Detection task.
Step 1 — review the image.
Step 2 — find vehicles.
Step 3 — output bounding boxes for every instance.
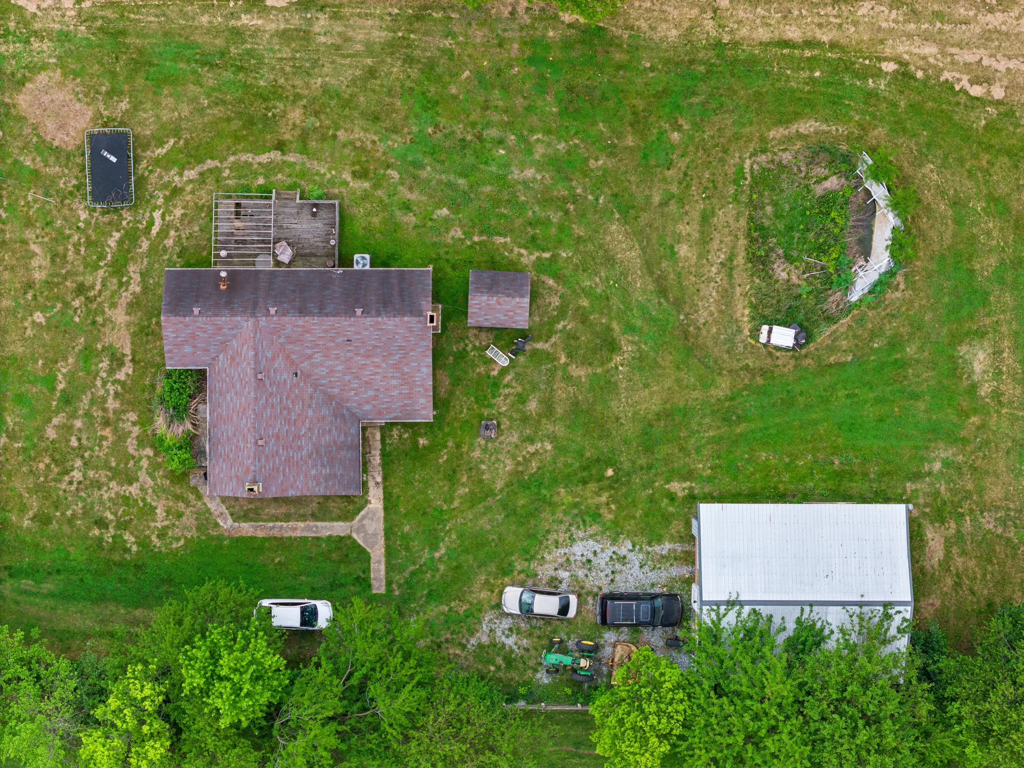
[501,585,579,621]
[758,325,795,349]
[254,597,333,632]
[542,639,601,681]
[597,591,680,630]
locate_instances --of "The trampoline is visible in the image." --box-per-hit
[85,129,134,207]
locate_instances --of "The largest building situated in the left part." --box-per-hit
[161,266,441,498]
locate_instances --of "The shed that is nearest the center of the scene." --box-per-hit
[467,269,531,329]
